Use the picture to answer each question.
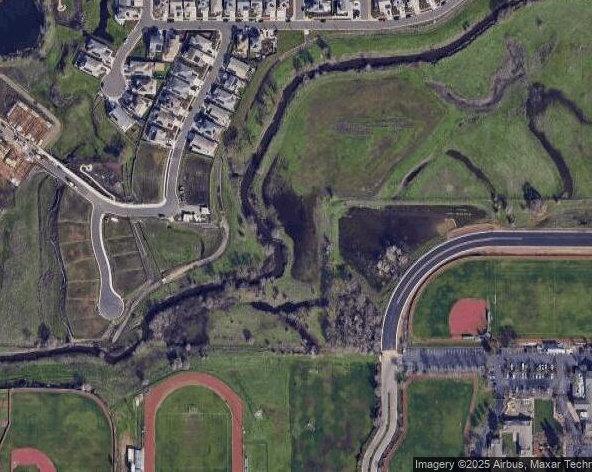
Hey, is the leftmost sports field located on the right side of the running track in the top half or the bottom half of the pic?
bottom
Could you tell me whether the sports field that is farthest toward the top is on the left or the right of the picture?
right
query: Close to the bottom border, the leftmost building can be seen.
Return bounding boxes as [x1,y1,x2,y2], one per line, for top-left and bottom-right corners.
[491,420,533,462]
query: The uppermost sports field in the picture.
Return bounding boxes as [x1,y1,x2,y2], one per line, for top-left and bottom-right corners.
[411,254,592,341]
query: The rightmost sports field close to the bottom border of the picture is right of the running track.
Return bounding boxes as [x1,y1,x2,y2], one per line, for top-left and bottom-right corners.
[392,374,477,472]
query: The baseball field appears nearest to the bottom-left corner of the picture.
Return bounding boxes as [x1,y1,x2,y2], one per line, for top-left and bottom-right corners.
[0,388,115,472]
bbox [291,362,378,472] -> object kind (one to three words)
sports field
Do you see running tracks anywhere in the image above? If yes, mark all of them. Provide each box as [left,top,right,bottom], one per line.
[145,372,243,472]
